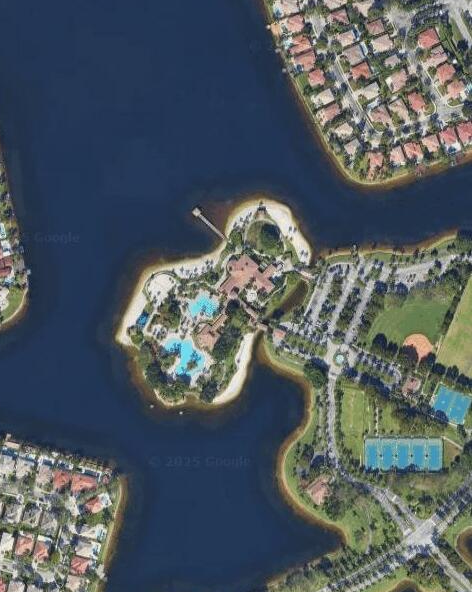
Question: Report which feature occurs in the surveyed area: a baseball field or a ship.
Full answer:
The one in the frame is a baseball field.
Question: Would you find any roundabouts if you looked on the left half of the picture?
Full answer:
No, the scene shows no roundabout on the left half of the picture.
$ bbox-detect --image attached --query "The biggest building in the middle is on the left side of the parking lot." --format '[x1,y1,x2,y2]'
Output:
[215,252,279,298]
